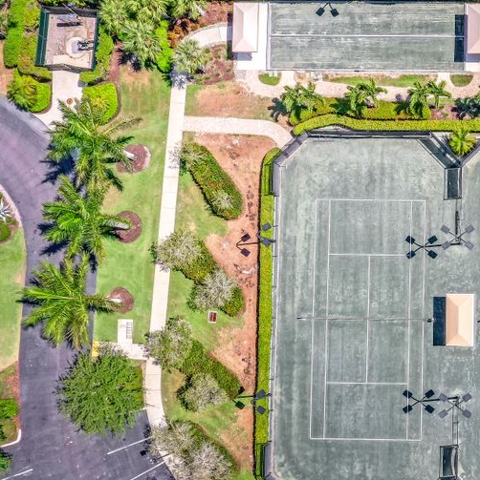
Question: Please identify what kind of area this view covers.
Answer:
sports ground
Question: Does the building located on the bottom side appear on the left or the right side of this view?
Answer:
right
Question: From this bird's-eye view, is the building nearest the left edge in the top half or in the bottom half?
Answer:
top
